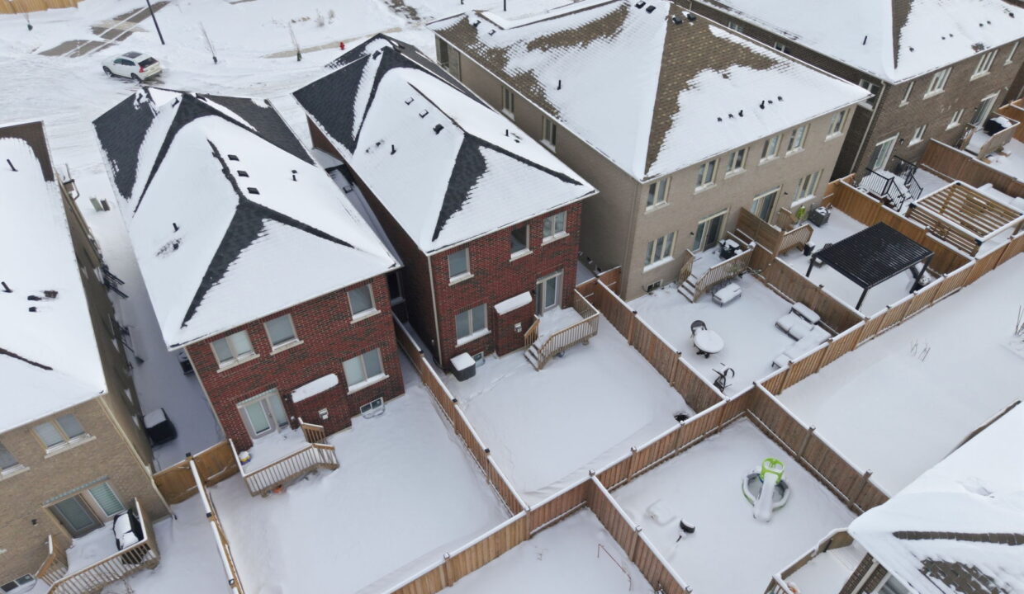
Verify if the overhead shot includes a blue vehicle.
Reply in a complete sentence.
No, I can't see a single blue vehicle in this photo.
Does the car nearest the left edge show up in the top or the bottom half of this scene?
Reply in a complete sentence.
The car nearest the left edge sits in the top half of the picture.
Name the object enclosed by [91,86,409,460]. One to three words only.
house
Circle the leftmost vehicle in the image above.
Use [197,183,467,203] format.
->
[101,48,165,83]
